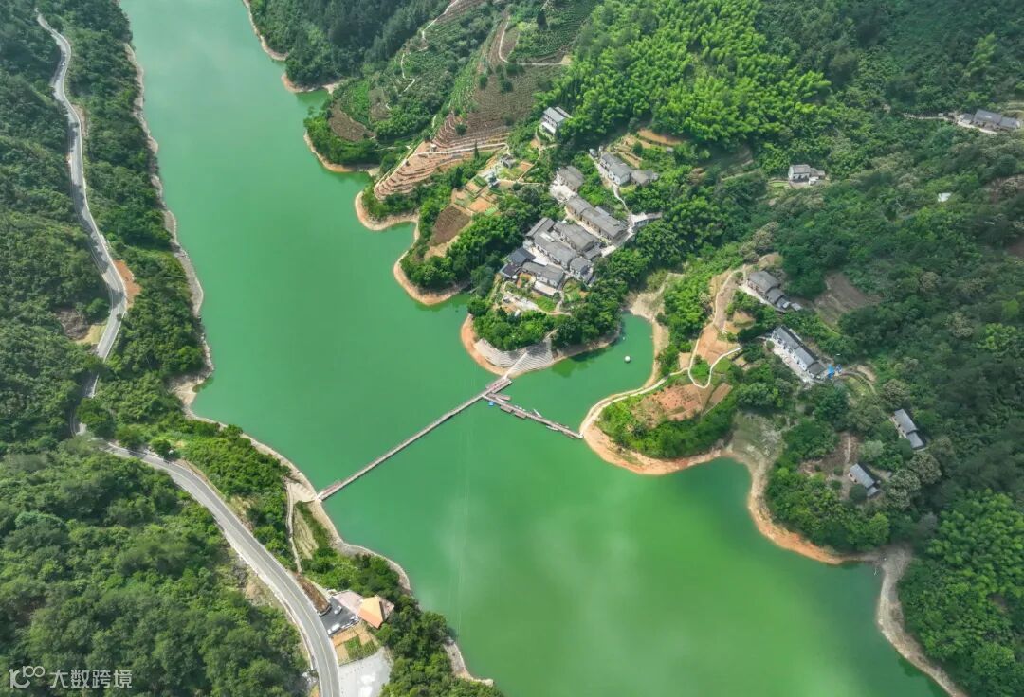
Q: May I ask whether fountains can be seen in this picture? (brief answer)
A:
No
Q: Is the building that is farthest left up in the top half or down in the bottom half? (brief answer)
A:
bottom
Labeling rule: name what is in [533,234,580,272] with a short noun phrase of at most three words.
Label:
house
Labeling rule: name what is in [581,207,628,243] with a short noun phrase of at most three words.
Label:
house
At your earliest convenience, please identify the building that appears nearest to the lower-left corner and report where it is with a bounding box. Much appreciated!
[359,597,387,630]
